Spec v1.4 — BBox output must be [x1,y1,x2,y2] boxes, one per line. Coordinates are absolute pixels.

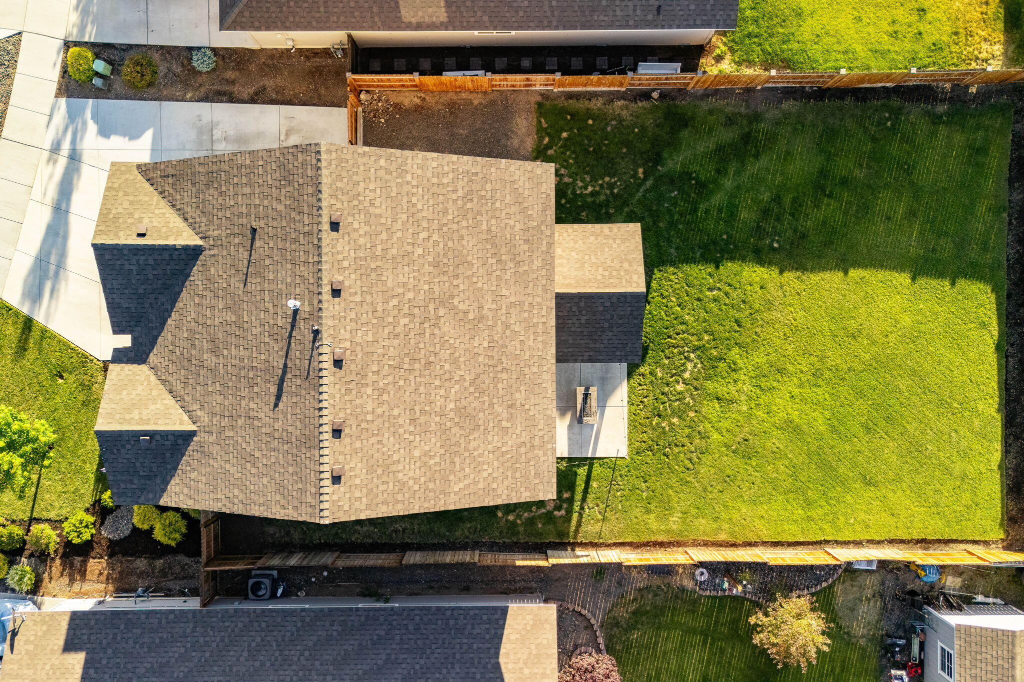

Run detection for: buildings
[924,604,1024,682]
[0,596,558,682]
[91,141,644,522]
[217,0,740,58]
